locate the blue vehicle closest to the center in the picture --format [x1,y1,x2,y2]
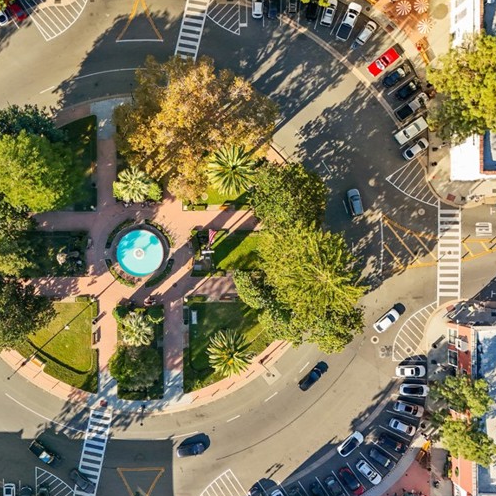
[347,188,363,216]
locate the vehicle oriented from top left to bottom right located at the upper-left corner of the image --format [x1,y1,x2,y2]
[4,0,30,24]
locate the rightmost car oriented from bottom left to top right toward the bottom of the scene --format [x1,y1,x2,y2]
[371,308,400,333]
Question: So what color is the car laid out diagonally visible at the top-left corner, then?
red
